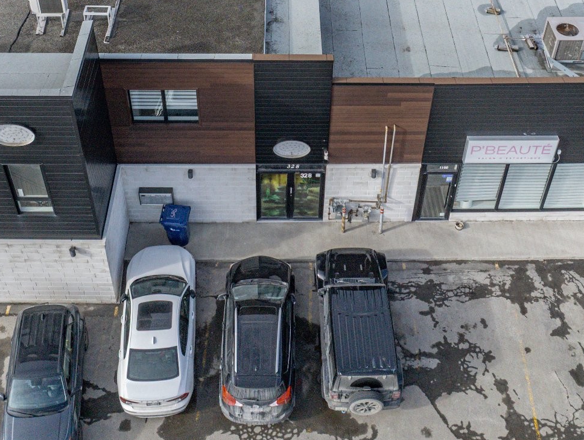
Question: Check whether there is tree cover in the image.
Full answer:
No, the scene doesn't show any tree cover.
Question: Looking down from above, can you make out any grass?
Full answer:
No, the scene doesn't show any grass.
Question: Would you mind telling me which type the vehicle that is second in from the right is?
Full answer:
From above, the vehicle that is second in from the right can be identified as a car.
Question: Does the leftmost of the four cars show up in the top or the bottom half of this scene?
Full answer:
The leftmost of the four cars is in the bottom half of the image.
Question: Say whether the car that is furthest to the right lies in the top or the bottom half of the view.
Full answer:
The car that is furthest to the right sits in the bottom half of the picture.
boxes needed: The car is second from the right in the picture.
[214,260,301,429]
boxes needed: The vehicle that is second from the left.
[111,247,197,421]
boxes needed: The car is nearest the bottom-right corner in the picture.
[314,250,405,417]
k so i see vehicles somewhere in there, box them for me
[111,247,197,421]
[314,250,405,417]
[214,260,301,429]
[0,300,94,440]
